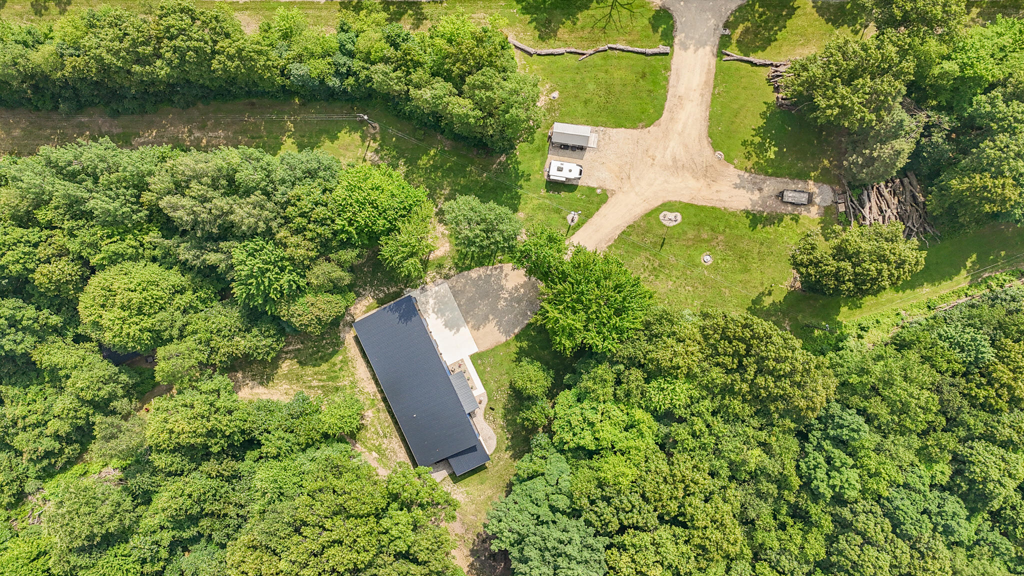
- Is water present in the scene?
No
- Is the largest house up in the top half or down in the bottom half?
bottom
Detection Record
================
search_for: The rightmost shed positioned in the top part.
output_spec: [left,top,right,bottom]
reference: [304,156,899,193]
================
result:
[552,123,595,150]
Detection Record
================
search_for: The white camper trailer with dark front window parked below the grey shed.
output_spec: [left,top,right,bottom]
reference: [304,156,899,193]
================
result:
[548,161,585,180]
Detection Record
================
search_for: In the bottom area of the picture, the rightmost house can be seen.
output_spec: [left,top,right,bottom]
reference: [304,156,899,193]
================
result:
[352,296,490,476]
